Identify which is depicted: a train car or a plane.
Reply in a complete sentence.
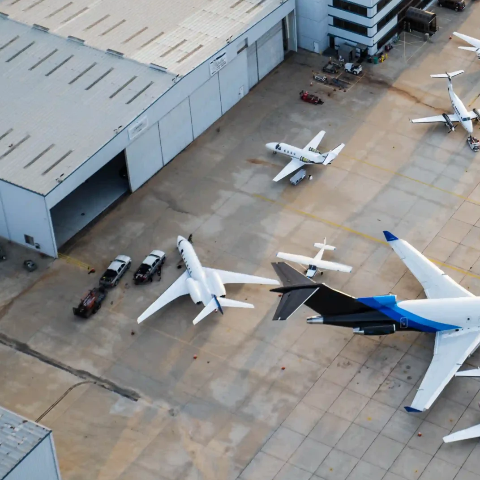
The image shows a plane.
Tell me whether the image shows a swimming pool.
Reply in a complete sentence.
No, there appears to be no swimming pool in this shot.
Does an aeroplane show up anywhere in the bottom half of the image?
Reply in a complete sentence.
Yes, an aeroplane shows up in the bottom half of the image.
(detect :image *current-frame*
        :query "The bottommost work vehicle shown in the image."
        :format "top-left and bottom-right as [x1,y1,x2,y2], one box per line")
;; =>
[69,282,105,318]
